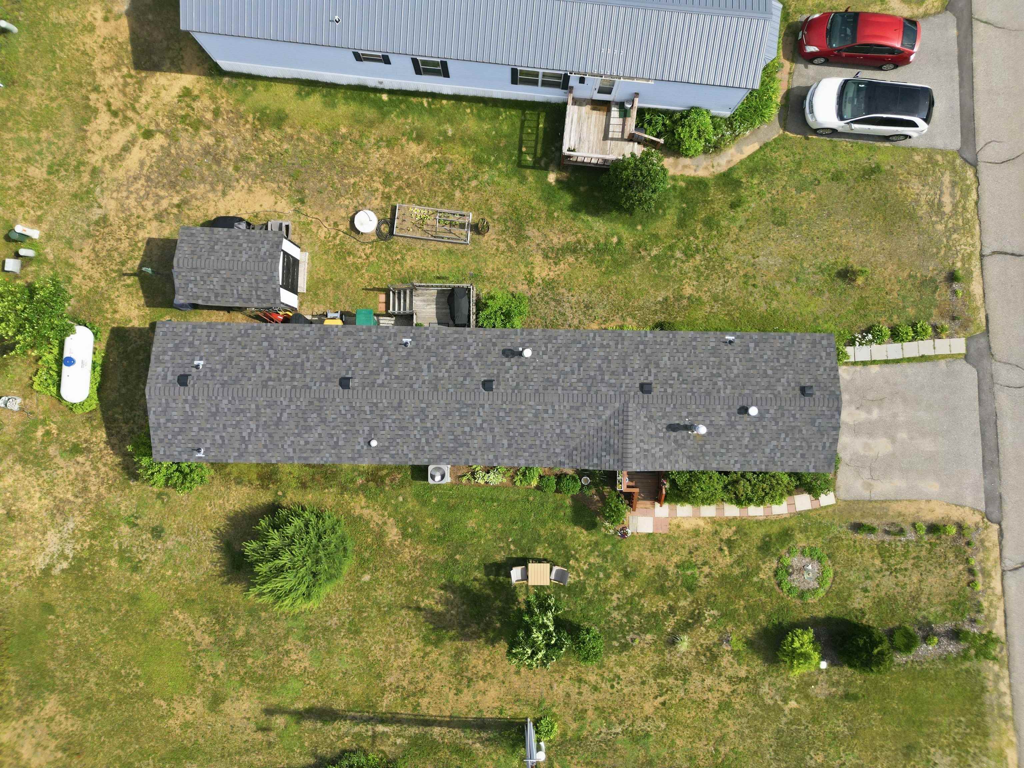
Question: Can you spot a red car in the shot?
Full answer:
Yes, a red car can be made out from above.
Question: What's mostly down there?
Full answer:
The largest share of the image is taken up by grass.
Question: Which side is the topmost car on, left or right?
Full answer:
It is on the right.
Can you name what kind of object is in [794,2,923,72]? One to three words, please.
car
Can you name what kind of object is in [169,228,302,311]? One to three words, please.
shed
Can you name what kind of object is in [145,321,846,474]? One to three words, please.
house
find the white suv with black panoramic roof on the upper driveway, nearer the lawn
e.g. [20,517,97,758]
[800,67,935,141]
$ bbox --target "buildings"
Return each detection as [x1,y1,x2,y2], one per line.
[169,228,302,311]
[178,0,777,119]
[145,321,846,474]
